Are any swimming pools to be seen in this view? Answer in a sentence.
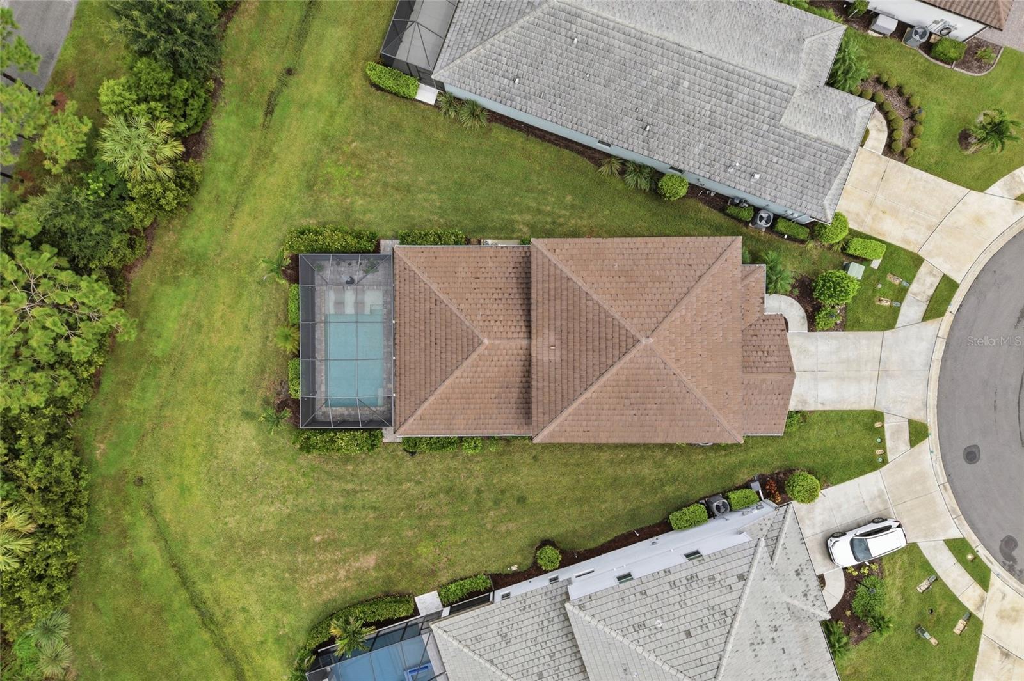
Yes, there's a swimming pool here.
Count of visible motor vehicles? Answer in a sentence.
I count just 1 motor vehicle.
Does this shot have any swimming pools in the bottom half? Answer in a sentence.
Yes, a swimming pool can be seen in the bottom half.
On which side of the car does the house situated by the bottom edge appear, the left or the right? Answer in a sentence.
From the viewer's perspective, the house situated by the bottom edge falls to the left of the car.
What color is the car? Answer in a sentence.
The car looks white in the image.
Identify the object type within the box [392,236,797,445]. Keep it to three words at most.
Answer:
house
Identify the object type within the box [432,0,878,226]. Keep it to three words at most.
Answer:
house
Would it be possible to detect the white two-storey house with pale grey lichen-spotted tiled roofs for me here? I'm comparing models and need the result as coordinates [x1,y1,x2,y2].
[428,499,842,681]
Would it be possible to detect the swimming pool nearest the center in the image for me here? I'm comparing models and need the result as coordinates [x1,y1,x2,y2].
[323,283,386,410]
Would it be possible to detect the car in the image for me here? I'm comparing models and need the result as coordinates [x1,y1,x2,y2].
[825,516,911,568]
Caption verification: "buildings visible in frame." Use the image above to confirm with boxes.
[428,499,842,681]
[392,236,797,445]
[432,0,878,226]
[846,0,1016,43]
